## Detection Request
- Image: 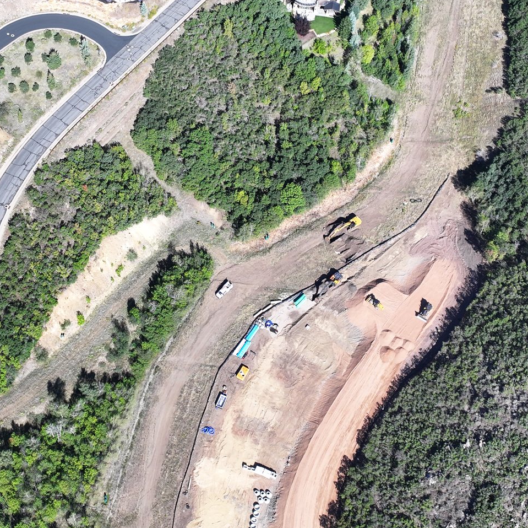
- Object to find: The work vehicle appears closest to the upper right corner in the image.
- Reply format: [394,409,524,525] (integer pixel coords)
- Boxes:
[328,211,367,239]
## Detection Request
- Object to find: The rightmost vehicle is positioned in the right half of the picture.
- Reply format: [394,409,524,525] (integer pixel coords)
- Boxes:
[416,302,432,321]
